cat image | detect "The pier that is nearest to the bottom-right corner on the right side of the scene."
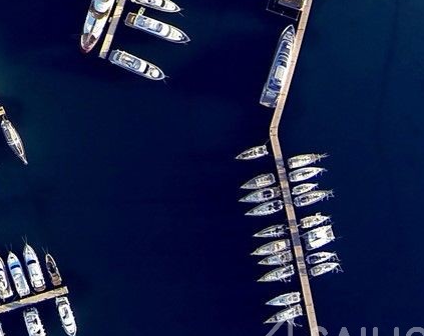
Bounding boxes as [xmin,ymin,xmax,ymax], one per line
[268,0,318,336]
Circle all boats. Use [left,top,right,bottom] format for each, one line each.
[290,183,322,195]
[47,255,60,286]
[130,0,186,13]
[24,307,47,336]
[0,258,14,303]
[302,225,341,250]
[2,117,29,168]
[254,264,295,284]
[309,262,345,276]
[252,223,287,238]
[305,251,341,265]
[286,154,329,168]
[237,172,276,191]
[84,0,118,50]
[262,17,299,110]
[245,199,284,216]
[237,187,281,202]
[9,252,30,301]
[237,146,269,160]
[25,244,47,292]
[119,14,199,45]
[263,306,305,328]
[288,168,331,181]
[259,250,294,266]
[260,292,301,309]
[57,296,78,336]
[299,215,331,229]
[251,239,292,256]
[292,190,339,207]
[107,48,166,79]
